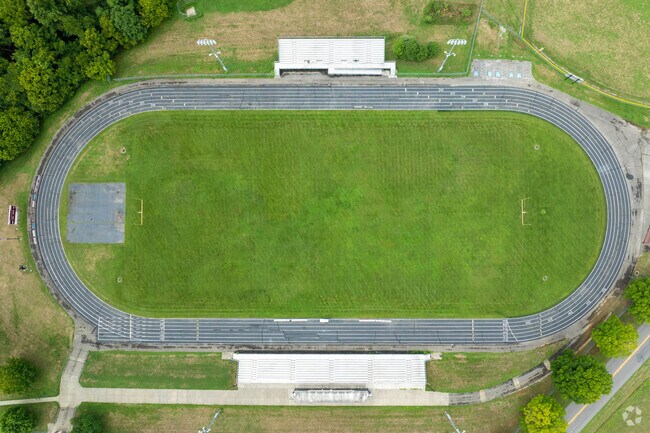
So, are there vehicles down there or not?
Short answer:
No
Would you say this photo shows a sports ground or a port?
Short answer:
sports ground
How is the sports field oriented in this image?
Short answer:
horizontally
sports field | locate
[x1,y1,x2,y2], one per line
[59,110,607,318]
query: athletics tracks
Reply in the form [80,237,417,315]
[34,86,632,345]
